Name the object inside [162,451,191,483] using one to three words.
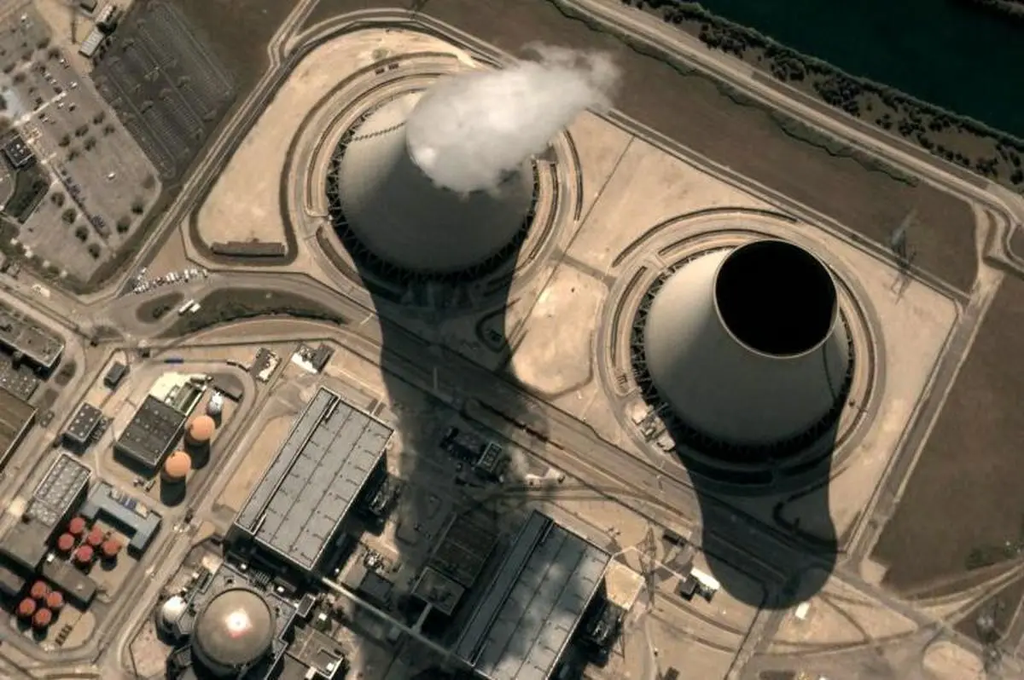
storage tank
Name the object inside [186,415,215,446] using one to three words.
storage tank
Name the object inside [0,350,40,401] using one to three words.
building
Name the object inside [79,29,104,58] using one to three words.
shed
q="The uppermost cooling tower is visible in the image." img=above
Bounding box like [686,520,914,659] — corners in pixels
[326,75,539,285]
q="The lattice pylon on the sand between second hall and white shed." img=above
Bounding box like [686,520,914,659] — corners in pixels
[634,529,655,564]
